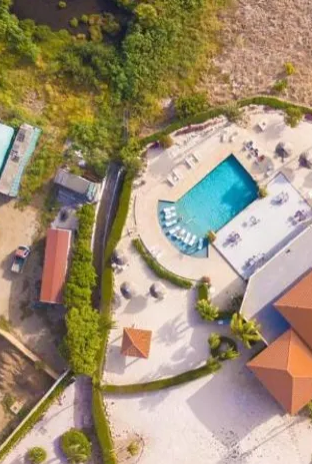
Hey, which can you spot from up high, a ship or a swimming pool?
swimming pool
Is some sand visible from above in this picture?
Yes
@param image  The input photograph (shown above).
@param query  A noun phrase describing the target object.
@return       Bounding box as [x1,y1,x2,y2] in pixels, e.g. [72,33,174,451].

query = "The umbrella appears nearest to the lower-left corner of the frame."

[121,281,139,299]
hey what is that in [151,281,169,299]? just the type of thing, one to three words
umbrella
